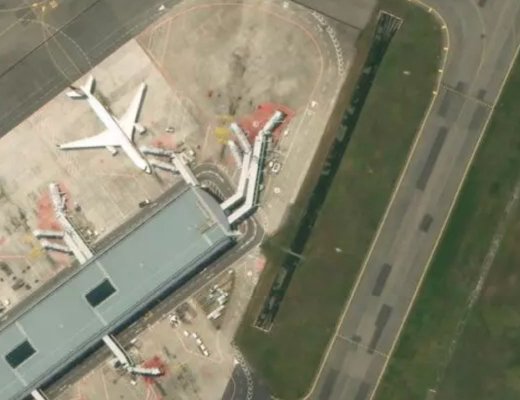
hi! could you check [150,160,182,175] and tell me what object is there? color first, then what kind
white jet bridge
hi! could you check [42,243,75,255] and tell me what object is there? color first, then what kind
white jet bridge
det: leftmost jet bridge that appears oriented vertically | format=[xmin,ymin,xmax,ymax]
[51,184,66,220]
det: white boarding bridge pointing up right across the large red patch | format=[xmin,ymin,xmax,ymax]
[258,111,282,136]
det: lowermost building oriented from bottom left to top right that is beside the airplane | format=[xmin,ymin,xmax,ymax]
[0,185,247,400]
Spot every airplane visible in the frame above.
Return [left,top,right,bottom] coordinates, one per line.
[61,74,151,173]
